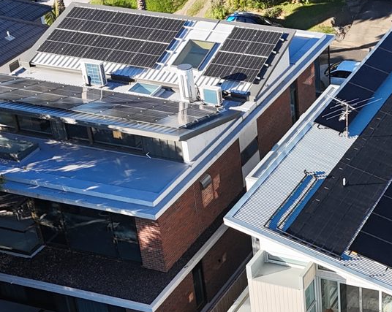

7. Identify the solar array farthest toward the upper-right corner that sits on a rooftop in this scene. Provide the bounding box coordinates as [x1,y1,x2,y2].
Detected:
[318,37,392,134]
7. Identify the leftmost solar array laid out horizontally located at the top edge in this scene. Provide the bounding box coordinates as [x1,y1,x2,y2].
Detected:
[37,6,187,67]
